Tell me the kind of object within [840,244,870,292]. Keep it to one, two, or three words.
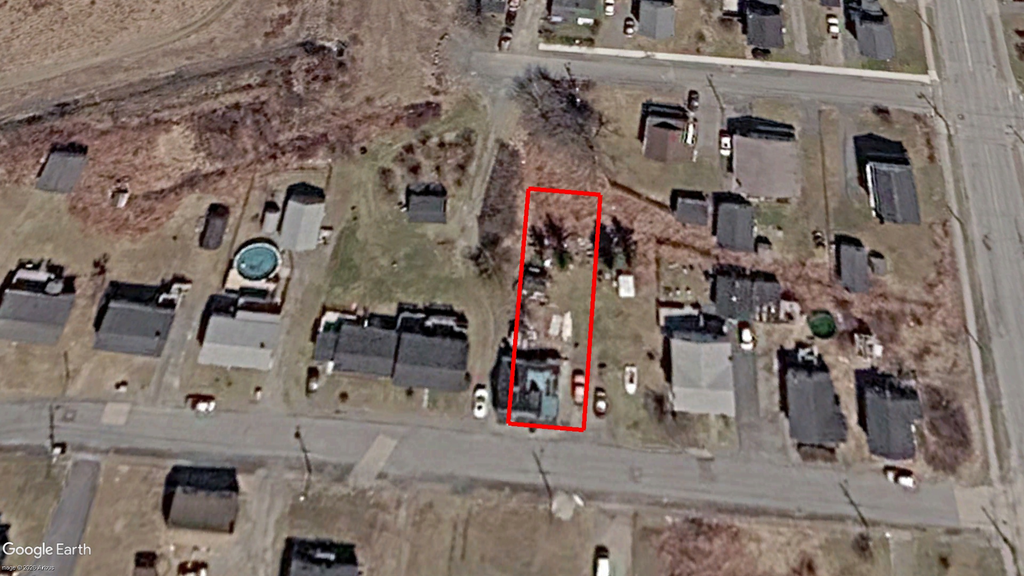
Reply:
building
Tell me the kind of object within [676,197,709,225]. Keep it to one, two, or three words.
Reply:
shed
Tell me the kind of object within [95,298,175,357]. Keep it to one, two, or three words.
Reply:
house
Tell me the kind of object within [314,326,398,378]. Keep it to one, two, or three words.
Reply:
house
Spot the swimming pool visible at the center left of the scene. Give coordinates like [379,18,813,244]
[232,240,280,280]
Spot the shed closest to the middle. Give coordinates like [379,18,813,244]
[524,267,545,291]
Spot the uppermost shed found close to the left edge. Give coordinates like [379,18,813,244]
[36,151,87,192]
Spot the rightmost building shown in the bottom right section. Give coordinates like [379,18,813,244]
[867,387,919,459]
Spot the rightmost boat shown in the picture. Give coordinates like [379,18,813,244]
[625,363,637,394]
